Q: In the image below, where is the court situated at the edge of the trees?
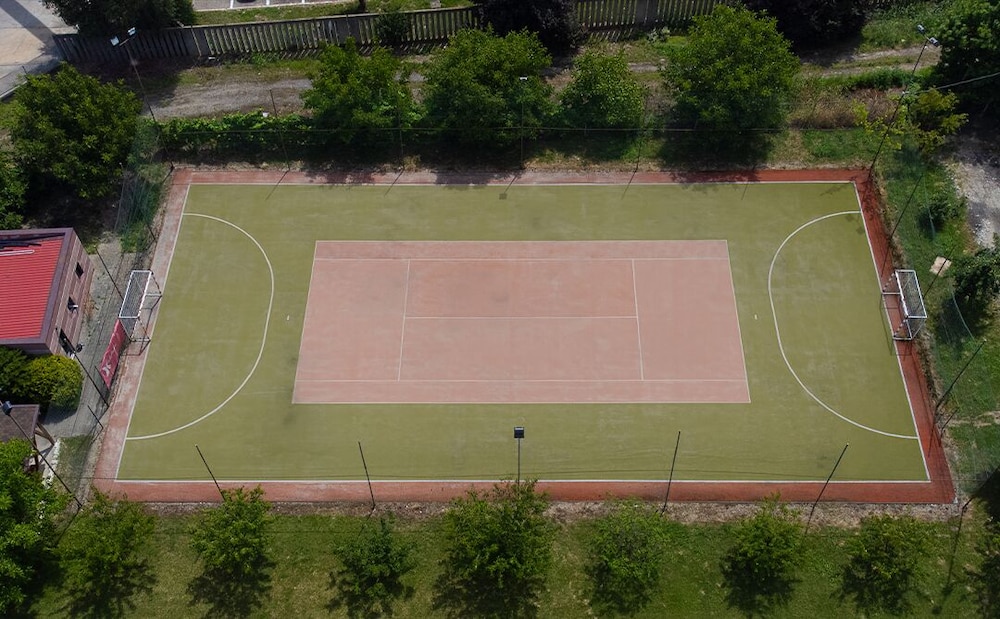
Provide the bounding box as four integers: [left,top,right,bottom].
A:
[91,168,954,504]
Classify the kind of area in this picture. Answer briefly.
sports ground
